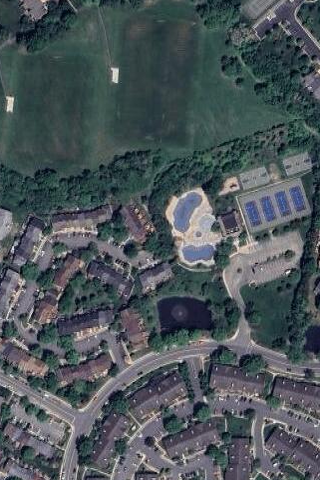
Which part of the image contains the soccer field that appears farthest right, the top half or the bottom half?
top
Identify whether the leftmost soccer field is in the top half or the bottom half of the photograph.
top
